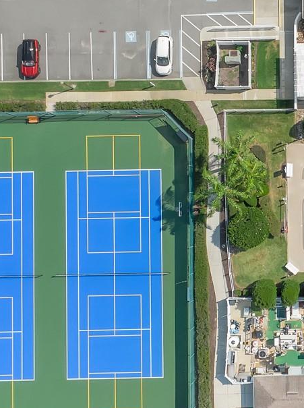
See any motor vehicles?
Yes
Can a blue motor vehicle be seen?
No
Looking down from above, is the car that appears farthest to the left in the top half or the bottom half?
top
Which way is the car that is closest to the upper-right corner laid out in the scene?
vertically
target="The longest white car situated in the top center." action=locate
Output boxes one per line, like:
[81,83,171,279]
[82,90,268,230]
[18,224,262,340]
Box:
[154,36,174,76]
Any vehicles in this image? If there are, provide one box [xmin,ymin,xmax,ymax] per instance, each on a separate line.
[154,36,174,76]
[20,39,42,79]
